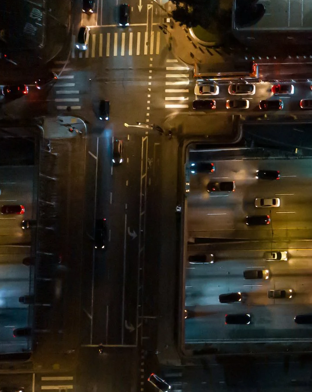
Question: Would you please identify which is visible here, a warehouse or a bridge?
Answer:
bridge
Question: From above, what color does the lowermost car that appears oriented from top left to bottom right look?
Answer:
black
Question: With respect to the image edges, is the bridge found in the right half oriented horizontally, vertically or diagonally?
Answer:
vertically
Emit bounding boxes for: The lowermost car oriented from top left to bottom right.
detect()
[147,372,172,392]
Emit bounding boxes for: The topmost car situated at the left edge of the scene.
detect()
[2,84,30,96]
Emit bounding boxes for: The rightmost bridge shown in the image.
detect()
[160,125,246,355]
